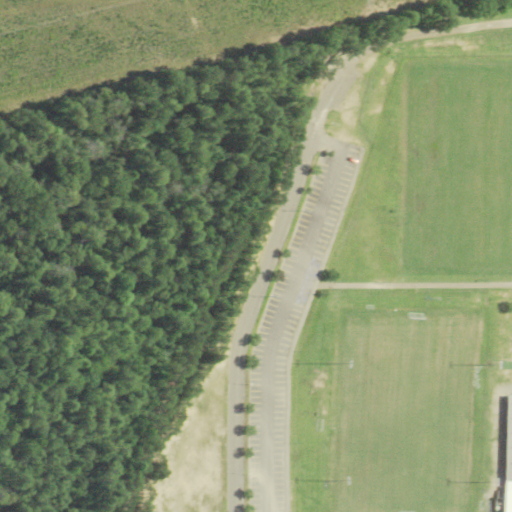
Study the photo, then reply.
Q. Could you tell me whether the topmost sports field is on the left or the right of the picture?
right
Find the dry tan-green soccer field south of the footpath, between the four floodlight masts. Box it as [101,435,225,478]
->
[335,312,477,512]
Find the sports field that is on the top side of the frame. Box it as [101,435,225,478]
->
[403,54,512,276]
